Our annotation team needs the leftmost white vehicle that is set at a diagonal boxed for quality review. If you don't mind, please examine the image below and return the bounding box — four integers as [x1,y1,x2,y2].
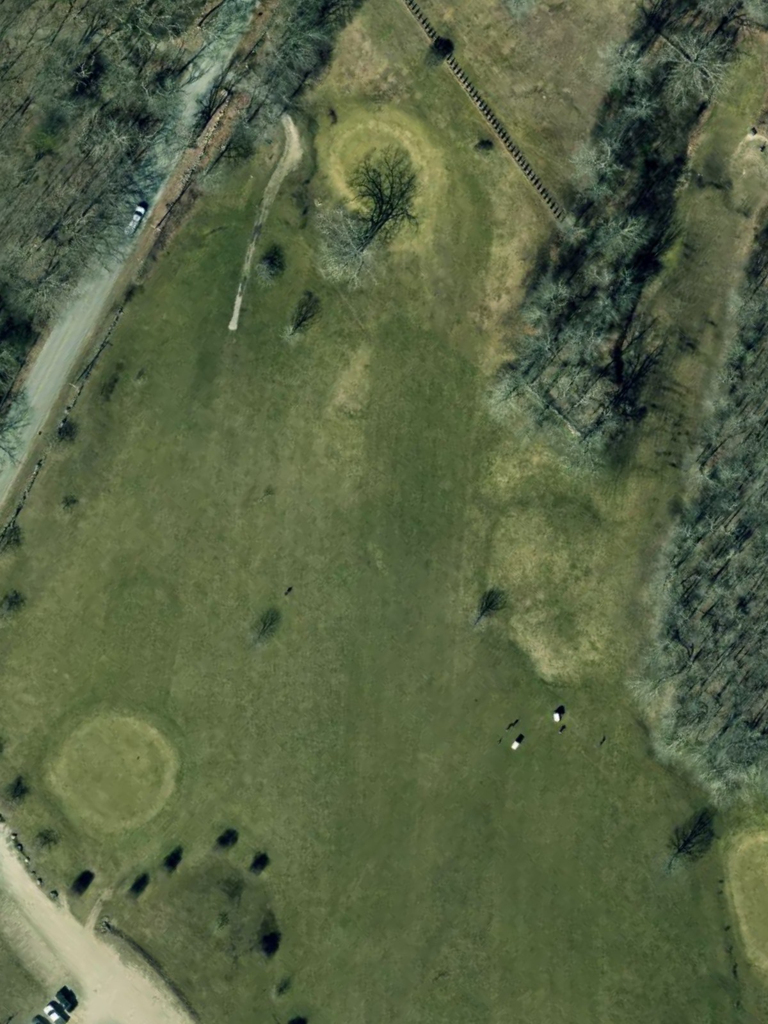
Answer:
[40,1004,64,1024]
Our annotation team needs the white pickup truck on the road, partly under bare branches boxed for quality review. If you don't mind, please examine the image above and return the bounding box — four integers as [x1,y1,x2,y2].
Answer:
[124,204,146,235]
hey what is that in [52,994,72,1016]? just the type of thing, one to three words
car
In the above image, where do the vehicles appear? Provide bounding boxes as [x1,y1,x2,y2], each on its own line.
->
[124,204,146,235]
[40,1004,64,1024]
[553,712,561,724]
[52,994,72,1016]
[510,740,520,752]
